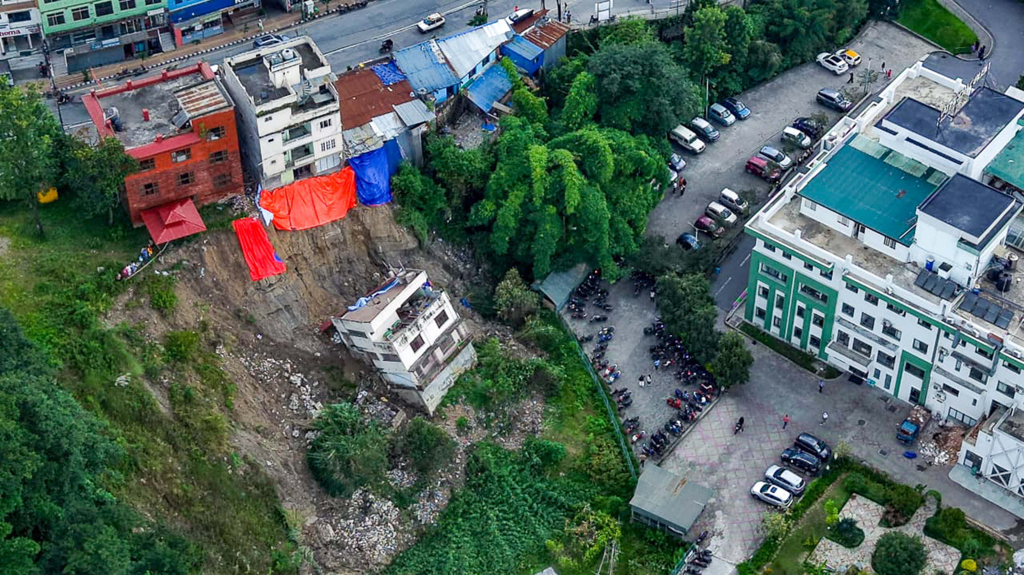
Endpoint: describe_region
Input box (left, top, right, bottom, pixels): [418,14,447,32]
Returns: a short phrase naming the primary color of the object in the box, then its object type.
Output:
white car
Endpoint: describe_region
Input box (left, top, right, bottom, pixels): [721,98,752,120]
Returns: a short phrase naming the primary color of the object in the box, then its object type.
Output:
blue car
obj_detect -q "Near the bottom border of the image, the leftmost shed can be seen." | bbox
[630,461,712,547]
